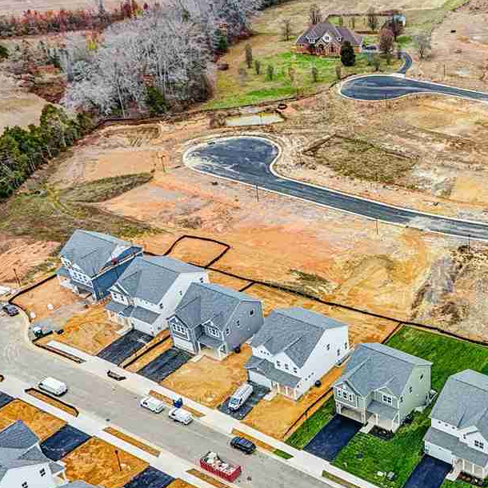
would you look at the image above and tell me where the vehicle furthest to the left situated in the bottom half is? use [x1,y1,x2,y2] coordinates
[0,302,19,316]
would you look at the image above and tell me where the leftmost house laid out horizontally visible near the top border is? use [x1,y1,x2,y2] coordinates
[295,21,365,54]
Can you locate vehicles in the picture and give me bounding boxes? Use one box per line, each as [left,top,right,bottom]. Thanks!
[35,375,66,397]
[135,392,168,415]
[227,437,257,457]
[163,403,196,426]
[223,383,255,413]
[0,302,19,316]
